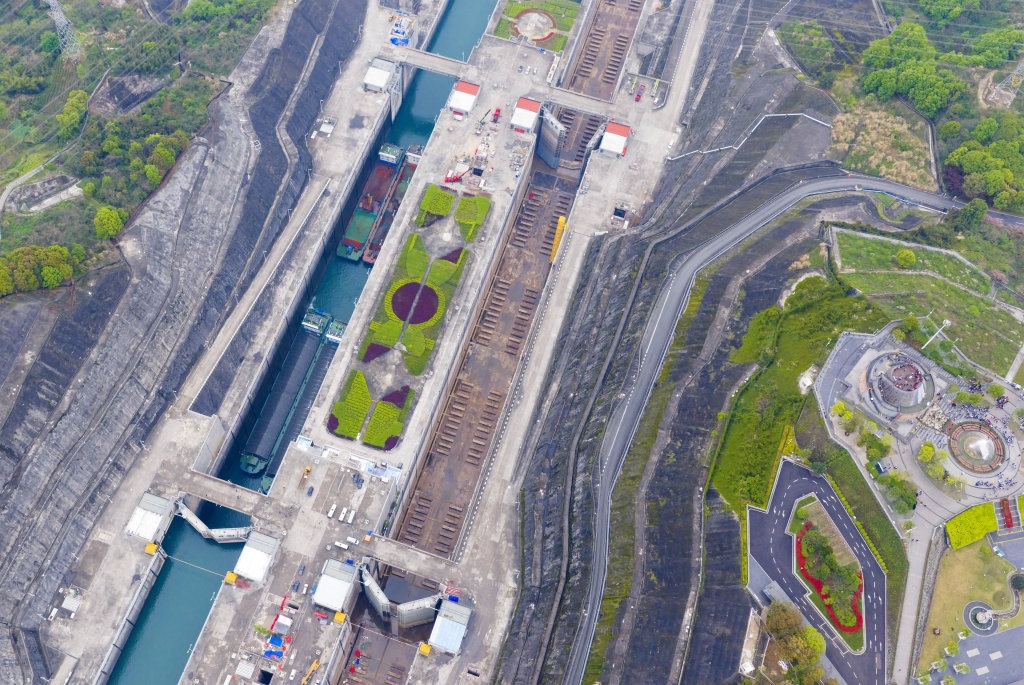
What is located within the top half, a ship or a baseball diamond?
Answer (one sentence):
There is a ship within the top half.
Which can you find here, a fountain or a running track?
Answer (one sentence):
The one in the frame is a fountain.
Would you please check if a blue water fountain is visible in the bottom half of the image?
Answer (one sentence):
No, the scene shows no blue water fountain in the bottom half of the image.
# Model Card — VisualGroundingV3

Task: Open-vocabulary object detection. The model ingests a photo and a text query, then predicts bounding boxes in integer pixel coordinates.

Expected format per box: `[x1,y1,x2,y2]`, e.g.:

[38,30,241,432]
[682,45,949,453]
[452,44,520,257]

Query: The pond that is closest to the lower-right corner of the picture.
[959,594,1005,641]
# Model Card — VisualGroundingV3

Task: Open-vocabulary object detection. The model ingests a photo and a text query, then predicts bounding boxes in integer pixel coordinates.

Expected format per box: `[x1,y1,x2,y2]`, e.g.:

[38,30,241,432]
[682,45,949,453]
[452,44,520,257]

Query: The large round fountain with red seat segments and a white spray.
[946,417,1010,478]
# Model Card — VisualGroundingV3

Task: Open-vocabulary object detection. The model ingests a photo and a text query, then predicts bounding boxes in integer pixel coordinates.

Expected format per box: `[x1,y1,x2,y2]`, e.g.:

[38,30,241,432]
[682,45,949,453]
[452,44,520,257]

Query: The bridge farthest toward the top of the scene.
[398,46,468,82]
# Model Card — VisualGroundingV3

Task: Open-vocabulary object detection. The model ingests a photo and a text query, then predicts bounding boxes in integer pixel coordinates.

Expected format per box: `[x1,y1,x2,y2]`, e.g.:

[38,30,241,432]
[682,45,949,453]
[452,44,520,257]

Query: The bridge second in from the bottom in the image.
[177,468,268,518]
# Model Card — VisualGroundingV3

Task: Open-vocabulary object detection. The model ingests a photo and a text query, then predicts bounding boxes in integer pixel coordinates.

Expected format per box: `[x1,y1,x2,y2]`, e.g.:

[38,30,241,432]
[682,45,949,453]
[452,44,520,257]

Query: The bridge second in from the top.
[545,85,614,120]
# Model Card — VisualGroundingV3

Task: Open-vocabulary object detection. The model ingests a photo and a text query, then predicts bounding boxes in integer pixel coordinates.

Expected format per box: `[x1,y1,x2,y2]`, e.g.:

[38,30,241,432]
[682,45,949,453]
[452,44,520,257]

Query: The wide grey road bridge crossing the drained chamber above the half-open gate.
[366,529,457,580]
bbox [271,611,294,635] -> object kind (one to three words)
shed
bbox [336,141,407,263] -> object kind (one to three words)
ship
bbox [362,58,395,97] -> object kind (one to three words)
building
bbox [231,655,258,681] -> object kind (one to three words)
shed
